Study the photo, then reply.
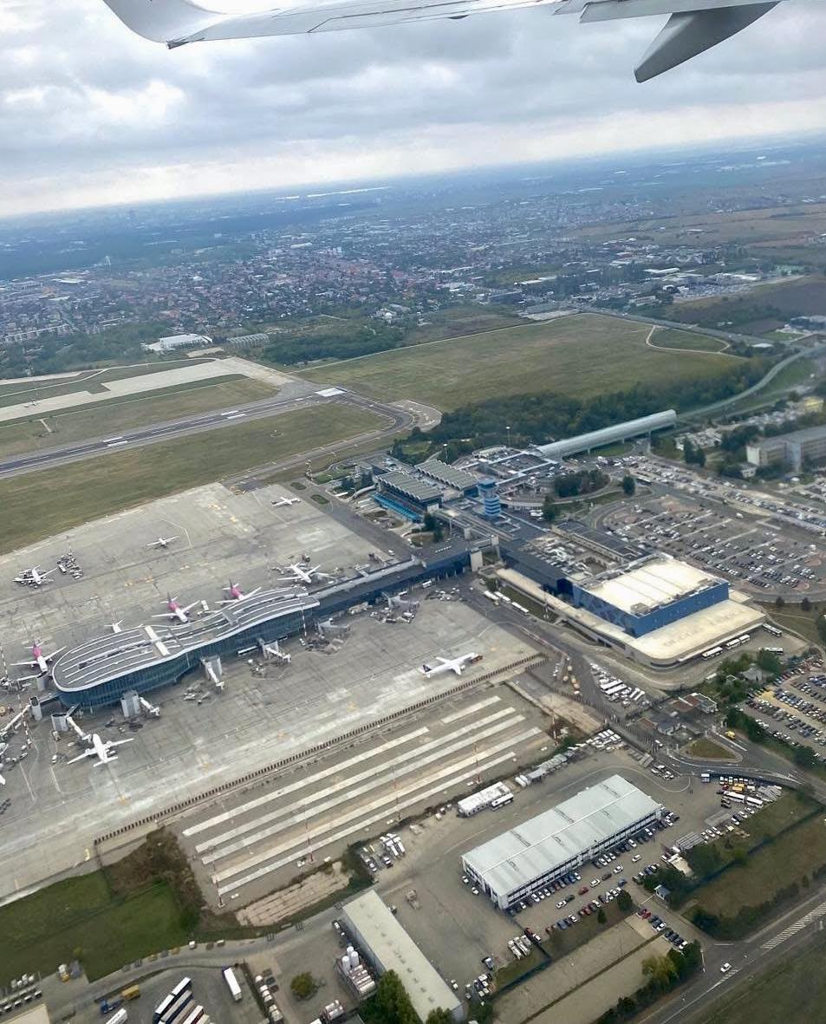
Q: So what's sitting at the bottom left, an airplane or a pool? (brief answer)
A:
airplane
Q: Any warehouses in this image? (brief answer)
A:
Yes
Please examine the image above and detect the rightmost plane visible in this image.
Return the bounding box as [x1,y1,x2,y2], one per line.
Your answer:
[419,647,479,680]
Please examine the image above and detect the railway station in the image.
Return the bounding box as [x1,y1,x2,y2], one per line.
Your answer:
[532,417,683,468]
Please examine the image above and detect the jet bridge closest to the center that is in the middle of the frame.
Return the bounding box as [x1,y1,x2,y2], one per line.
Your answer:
[382,594,419,610]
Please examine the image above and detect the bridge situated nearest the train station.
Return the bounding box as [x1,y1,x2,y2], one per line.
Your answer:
[678,344,826,424]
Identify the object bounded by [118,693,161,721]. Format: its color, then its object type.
gray jet bridge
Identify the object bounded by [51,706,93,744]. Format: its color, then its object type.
gray jet bridge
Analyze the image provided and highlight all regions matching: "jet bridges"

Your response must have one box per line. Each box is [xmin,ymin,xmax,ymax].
[263,637,292,664]
[312,618,349,639]
[118,693,161,721]
[206,658,226,692]
[382,594,419,610]
[16,673,57,694]
[51,706,93,744]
